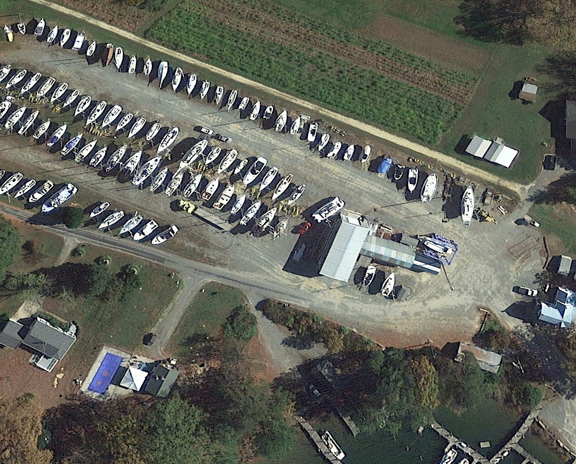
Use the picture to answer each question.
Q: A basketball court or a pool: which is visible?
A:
pool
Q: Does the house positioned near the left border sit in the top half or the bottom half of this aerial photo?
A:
bottom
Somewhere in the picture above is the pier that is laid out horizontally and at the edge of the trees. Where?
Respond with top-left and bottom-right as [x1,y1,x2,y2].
[431,409,546,464]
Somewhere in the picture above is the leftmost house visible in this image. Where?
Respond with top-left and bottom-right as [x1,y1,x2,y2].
[0,317,76,374]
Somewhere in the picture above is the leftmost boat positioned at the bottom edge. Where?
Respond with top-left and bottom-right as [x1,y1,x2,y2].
[324,430,346,462]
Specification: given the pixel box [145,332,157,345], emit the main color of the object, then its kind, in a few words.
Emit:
black vehicle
